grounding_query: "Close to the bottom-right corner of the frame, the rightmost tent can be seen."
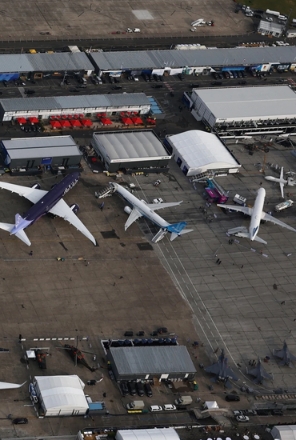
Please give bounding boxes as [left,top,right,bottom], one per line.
[270,420,296,440]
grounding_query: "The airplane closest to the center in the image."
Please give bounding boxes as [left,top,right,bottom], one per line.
[110,182,192,241]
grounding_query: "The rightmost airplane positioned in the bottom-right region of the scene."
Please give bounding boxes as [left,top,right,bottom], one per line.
[273,342,296,370]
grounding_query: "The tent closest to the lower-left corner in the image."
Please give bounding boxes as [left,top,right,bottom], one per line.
[30,374,91,417]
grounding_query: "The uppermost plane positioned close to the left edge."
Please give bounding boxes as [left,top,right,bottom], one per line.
[0,170,94,249]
